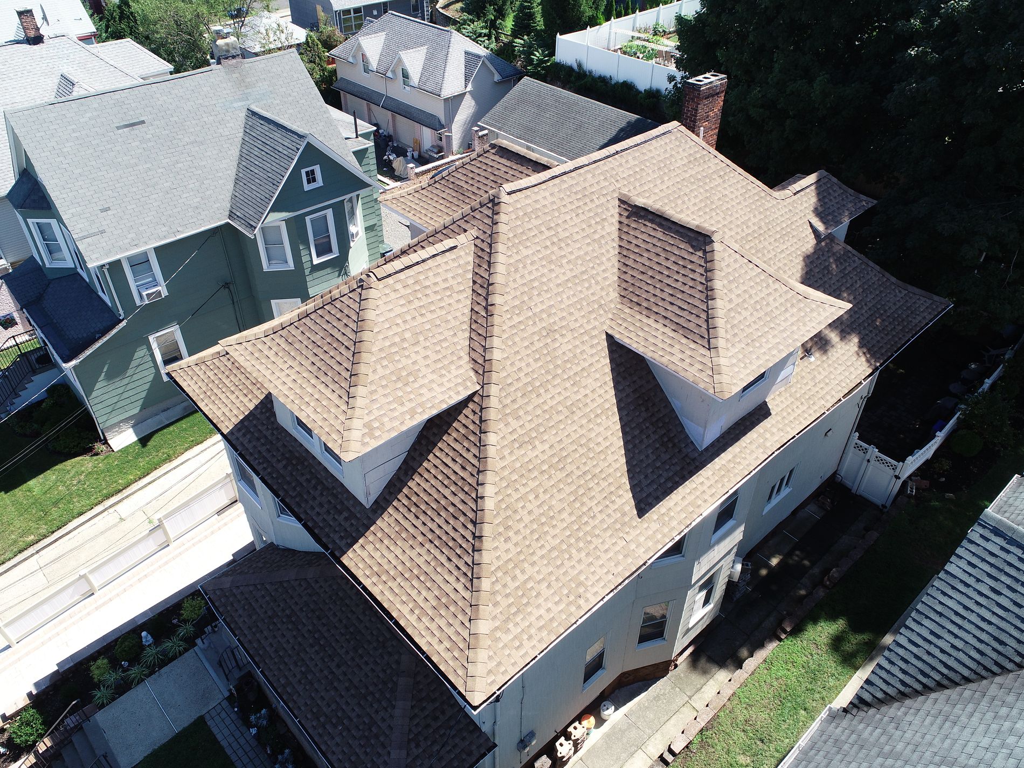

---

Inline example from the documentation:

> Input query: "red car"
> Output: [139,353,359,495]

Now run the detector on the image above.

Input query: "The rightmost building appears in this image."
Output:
[792,480,1024,768]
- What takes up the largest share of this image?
buildings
